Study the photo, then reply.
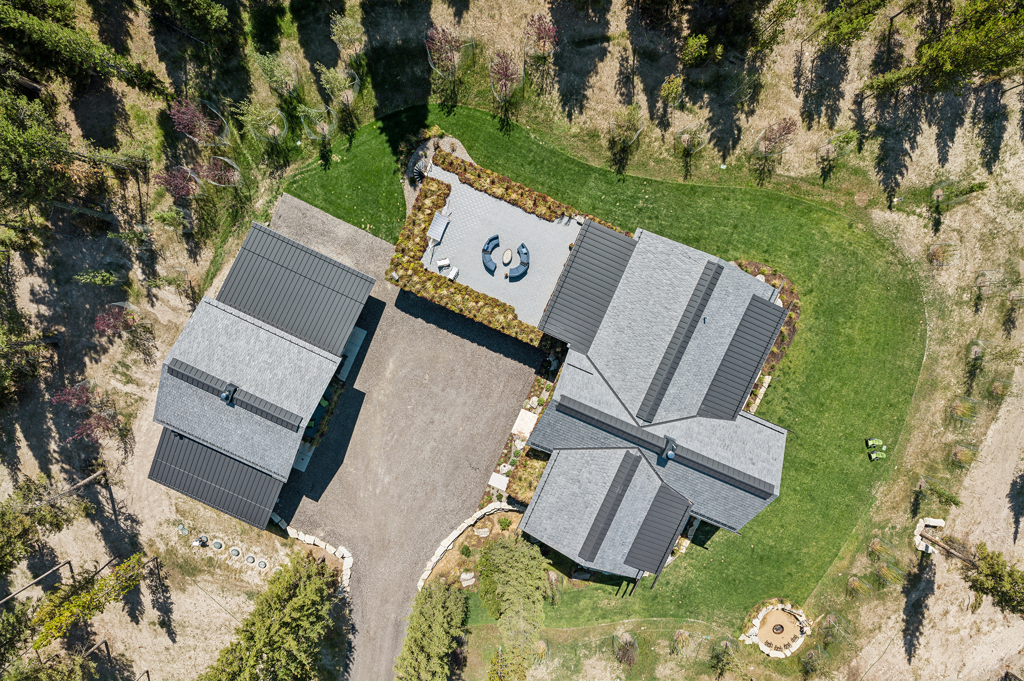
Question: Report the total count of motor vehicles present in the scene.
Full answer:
There are no motor vehicles in the image.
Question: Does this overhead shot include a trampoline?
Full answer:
No, no trampoline is visible in the view.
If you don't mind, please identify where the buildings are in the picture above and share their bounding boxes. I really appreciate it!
[147,220,376,532]
[514,219,795,596]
